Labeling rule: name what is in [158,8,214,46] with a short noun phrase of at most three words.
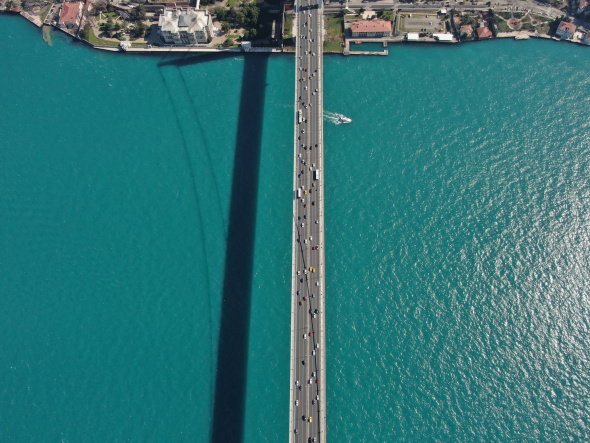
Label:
building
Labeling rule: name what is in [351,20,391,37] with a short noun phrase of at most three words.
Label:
building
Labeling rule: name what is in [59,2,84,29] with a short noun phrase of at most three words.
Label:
house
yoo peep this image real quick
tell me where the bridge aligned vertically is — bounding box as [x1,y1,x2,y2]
[290,0,326,443]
